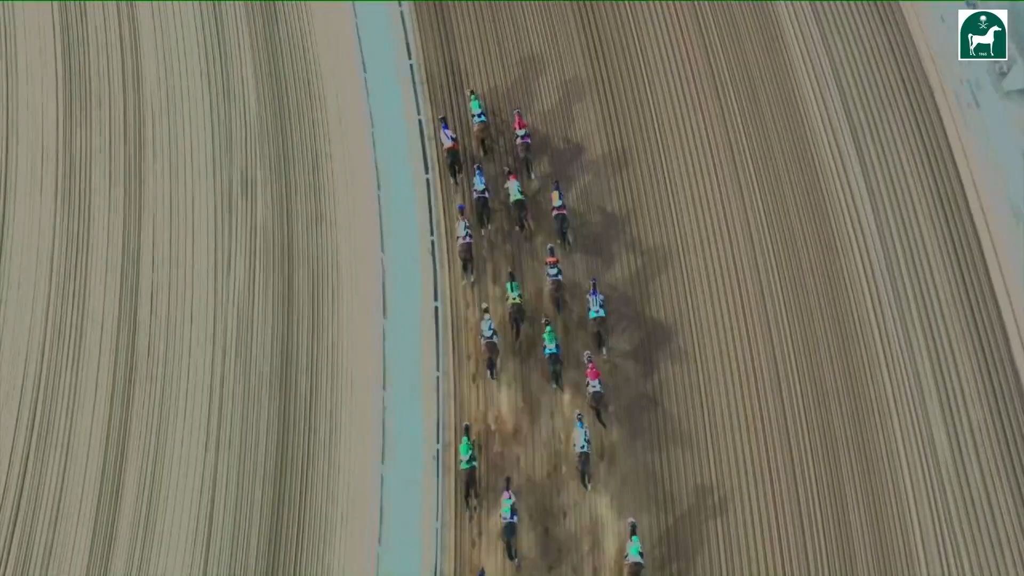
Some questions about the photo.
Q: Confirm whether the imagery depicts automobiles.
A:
No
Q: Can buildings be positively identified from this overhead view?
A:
No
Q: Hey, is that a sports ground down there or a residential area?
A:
sports ground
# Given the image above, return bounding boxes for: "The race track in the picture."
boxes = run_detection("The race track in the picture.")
[412,0,1024,576]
